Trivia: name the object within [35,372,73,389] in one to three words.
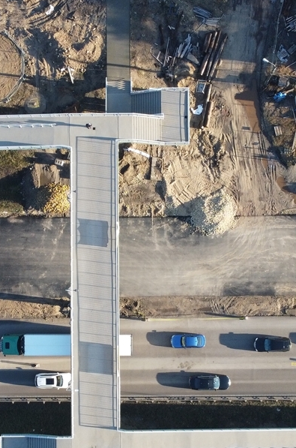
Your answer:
car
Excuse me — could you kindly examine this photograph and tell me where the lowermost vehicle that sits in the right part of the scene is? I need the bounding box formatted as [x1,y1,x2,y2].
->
[188,373,230,391]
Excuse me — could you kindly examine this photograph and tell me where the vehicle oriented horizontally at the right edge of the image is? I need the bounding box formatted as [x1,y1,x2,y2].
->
[254,335,291,353]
